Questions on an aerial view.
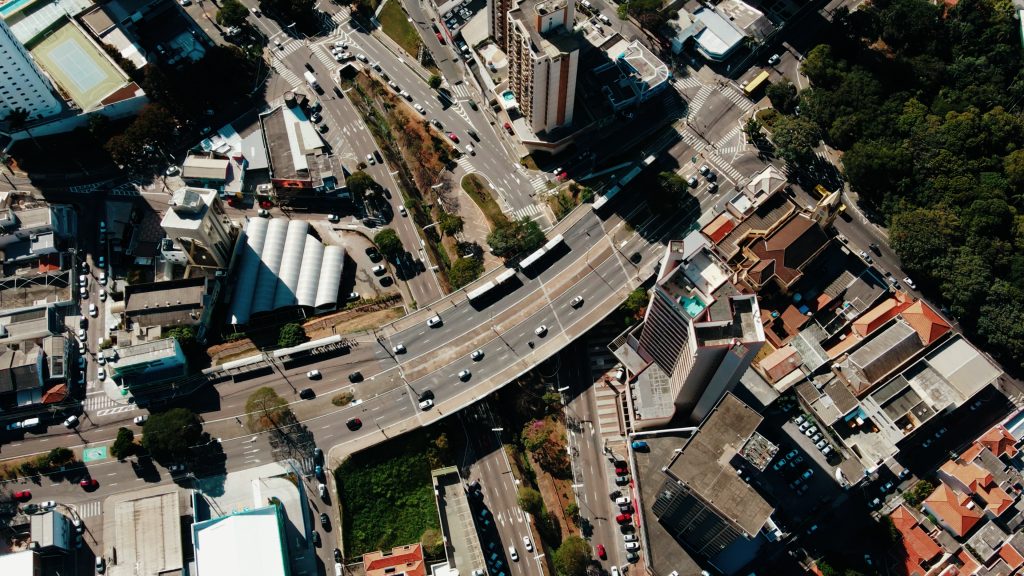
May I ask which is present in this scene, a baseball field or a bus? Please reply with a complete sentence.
Of the two, only a bus appears.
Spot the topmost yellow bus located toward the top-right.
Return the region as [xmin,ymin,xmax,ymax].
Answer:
[741,72,770,99]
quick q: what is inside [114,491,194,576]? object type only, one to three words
building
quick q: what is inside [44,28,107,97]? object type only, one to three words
tennis court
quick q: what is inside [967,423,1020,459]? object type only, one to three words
house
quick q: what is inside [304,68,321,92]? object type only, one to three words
vehicle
